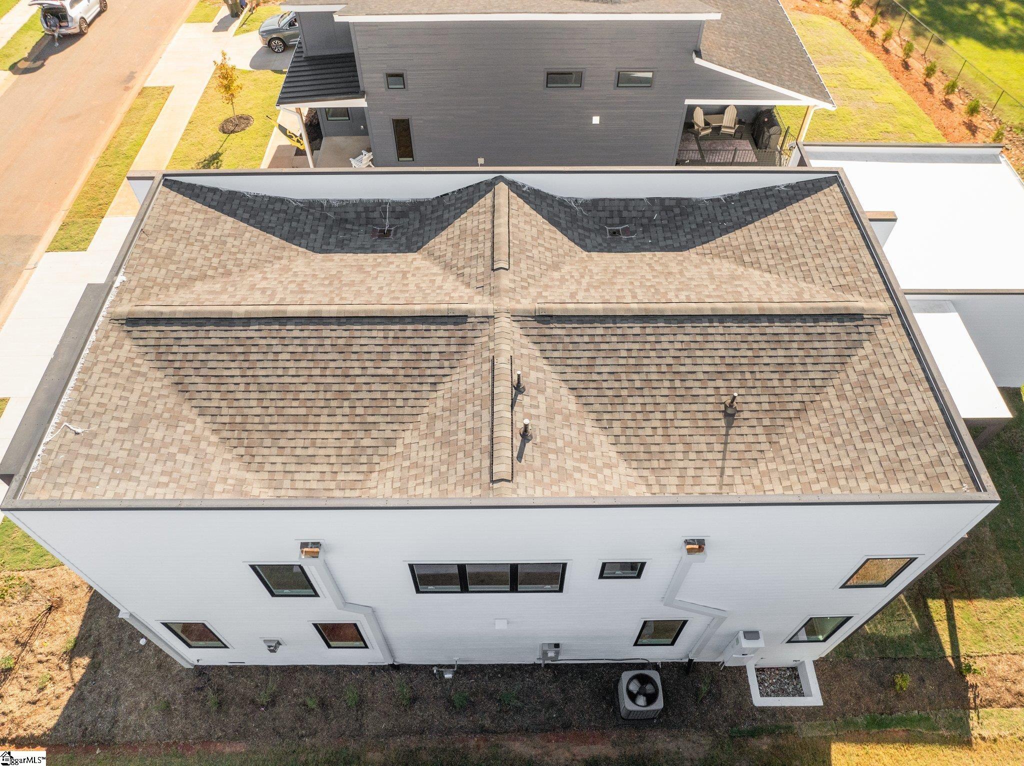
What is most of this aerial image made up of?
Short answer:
buildings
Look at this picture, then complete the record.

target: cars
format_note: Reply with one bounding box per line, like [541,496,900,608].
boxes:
[256,10,300,52]
[8,0,108,38]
